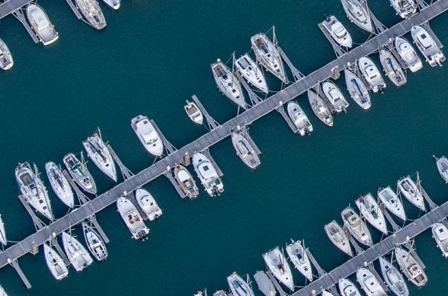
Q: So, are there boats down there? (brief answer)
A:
Yes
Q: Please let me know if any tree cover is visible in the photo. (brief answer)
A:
No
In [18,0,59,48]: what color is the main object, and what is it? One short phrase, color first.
white boat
